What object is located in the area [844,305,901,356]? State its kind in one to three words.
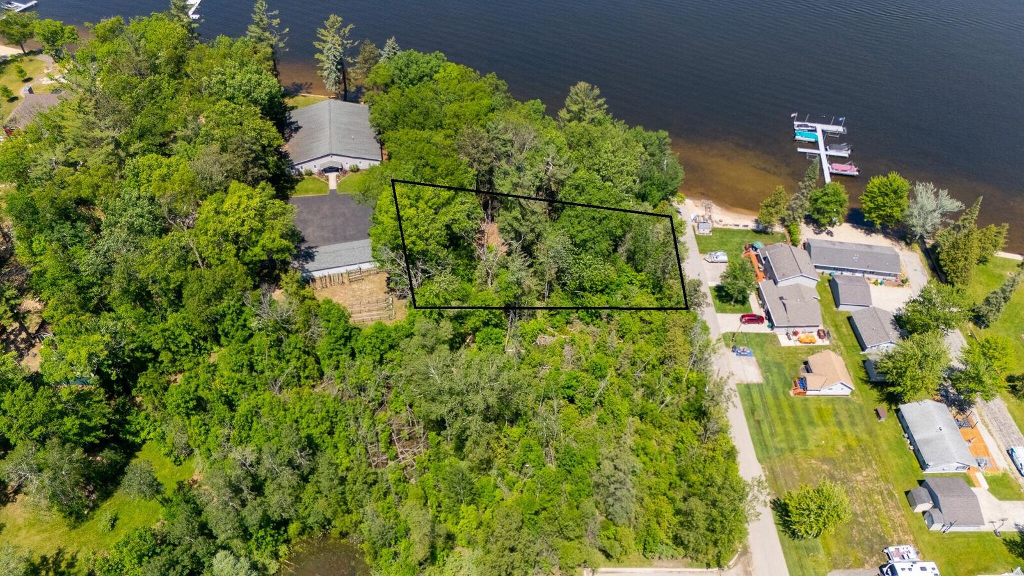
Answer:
house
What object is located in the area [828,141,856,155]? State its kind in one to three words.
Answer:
boat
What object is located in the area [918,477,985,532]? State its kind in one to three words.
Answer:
building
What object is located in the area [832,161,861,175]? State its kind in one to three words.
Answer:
boat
